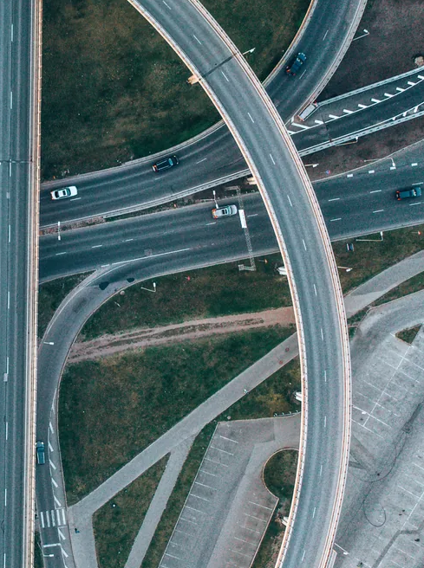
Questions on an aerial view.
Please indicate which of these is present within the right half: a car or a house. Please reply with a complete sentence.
Looking within the right half, you will find a car.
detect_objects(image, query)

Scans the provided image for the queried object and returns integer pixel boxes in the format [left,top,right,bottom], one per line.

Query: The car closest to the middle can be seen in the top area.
[210,205,237,219]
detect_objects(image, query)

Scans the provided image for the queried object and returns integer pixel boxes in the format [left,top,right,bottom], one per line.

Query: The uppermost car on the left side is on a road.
[151,156,179,173]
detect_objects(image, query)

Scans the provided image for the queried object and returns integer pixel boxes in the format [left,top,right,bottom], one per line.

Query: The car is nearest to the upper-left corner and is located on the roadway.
[50,185,78,199]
